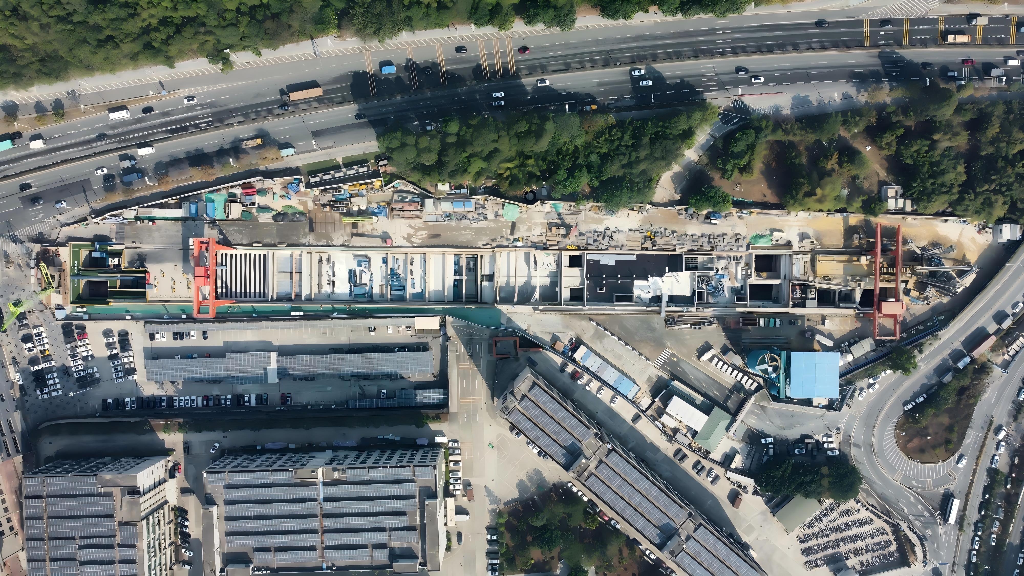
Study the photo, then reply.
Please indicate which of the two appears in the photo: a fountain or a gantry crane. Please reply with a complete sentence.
Visible in the photo is a gantry crane.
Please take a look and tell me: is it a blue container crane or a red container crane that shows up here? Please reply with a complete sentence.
Looking from above, you can make out a red container crane.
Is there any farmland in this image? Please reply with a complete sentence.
No, the scene doesn't show any farmland.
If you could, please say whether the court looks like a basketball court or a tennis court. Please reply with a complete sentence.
The court is a basketball court.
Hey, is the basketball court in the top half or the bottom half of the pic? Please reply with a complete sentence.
The bottom half of the photo is where the basketball court is.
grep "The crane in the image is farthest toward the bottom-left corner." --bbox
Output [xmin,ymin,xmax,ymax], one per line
[0,248,57,329]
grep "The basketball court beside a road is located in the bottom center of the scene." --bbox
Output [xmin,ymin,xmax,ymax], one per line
[480,434,556,505]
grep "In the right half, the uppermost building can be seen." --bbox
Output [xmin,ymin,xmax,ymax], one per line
[873,186,912,212]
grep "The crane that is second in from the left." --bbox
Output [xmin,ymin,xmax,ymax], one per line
[193,238,247,318]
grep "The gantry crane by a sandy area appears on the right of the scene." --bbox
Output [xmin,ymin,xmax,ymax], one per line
[846,222,906,339]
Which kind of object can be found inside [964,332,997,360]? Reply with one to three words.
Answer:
truck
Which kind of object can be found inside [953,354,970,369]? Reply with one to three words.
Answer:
vehicle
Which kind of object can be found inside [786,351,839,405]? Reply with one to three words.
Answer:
shed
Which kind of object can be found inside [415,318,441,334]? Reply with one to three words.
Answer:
building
